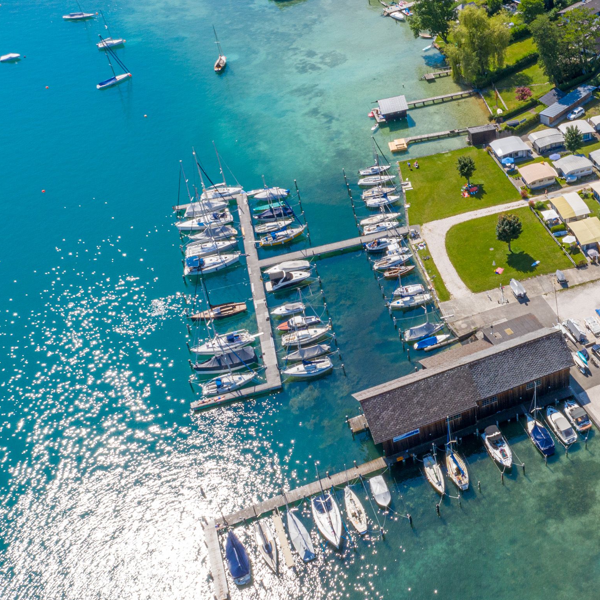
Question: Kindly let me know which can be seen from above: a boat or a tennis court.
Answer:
boat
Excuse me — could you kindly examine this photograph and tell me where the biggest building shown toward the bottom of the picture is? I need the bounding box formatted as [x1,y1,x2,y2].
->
[353,323,575,457]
